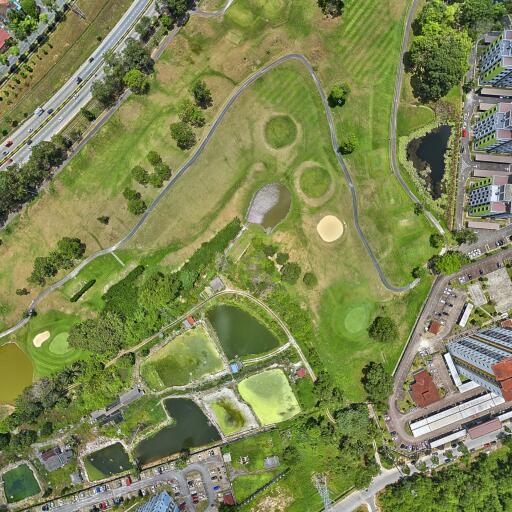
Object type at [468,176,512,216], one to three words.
building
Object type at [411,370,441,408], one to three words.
house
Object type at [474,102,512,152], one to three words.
building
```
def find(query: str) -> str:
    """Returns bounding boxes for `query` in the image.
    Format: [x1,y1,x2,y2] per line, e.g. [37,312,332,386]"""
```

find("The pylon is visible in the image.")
[312,468,334,512]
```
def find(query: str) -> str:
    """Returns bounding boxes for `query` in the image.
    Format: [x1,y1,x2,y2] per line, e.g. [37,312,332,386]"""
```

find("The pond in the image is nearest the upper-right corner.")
[408,124,452,198]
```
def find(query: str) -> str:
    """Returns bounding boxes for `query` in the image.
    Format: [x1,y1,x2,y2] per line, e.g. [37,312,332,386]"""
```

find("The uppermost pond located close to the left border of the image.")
[0,342,34,404]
